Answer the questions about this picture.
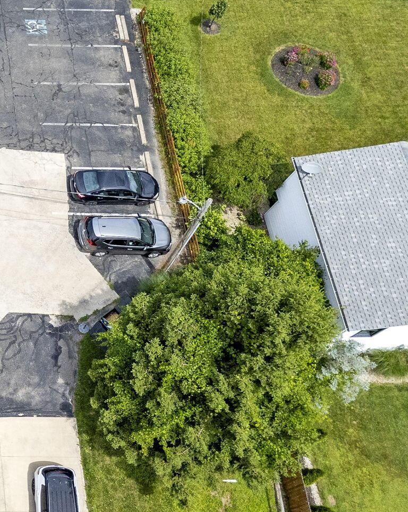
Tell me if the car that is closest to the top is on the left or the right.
left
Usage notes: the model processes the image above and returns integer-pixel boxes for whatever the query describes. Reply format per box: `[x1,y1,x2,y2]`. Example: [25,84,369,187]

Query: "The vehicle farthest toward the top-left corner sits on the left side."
[67,165,159,208]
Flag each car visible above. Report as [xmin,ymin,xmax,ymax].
[67,165,159,208]
[31,465,84,512]
[74,215,172,260]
